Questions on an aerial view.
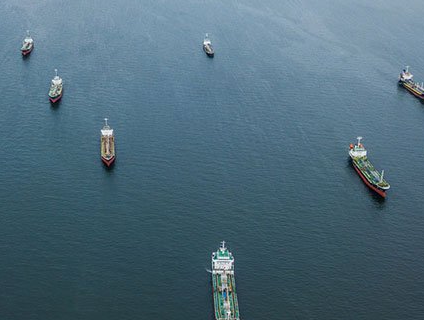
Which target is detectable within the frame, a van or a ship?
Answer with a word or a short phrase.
ship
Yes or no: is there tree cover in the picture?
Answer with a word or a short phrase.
No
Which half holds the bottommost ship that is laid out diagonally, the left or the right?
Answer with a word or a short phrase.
right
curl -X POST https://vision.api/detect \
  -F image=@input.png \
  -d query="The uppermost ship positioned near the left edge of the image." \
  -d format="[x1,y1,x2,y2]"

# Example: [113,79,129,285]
[20,32,34,54]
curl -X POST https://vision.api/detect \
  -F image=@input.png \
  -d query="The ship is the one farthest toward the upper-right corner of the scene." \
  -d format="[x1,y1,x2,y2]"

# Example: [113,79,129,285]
[397,68,424,101]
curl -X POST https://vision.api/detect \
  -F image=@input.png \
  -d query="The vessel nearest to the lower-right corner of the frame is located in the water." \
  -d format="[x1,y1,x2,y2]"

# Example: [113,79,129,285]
[344,138,392,196]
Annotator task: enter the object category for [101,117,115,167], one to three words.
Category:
ship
